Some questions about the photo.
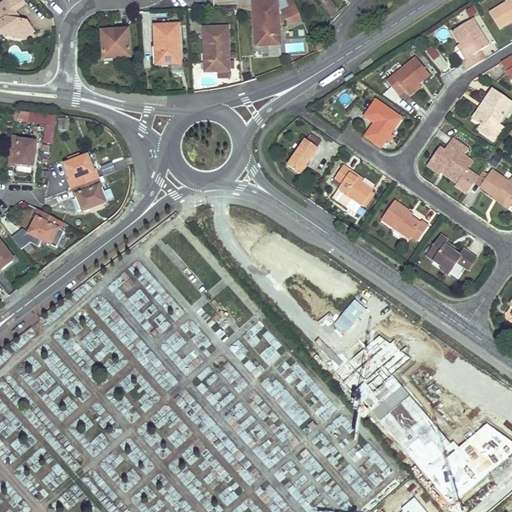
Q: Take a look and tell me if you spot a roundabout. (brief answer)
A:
Yes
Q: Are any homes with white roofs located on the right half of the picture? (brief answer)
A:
Yes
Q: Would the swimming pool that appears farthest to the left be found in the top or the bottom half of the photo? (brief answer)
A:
top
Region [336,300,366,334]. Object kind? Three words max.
building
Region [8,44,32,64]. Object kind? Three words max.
swimming pool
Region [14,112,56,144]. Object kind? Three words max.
shed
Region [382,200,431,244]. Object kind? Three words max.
house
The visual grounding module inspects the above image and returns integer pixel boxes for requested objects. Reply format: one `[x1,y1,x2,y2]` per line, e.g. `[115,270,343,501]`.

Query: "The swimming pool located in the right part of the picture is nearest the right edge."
[436,27,450,41]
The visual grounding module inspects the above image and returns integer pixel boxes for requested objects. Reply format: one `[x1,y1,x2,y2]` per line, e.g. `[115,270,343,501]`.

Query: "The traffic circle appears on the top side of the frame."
[118,96,278,204]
